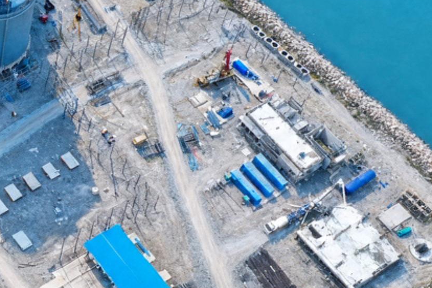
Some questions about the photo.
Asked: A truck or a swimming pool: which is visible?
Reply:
truck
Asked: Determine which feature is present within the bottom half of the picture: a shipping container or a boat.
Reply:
shipping container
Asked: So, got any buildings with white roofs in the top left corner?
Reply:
No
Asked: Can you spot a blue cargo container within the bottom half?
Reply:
Yes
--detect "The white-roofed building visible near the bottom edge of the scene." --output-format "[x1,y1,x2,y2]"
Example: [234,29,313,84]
[291,202,405,288]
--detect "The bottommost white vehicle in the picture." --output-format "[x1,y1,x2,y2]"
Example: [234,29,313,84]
[261,214,295,236]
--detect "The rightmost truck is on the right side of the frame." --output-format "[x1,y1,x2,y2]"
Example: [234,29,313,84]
[286,180,346,225]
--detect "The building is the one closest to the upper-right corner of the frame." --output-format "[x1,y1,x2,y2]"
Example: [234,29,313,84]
[235,98,354,182]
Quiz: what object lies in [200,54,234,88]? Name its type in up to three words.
crane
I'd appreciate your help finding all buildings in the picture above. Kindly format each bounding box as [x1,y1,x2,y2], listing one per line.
[291,202,405,288]
[235,98,354,182]
[82,224,169,288]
